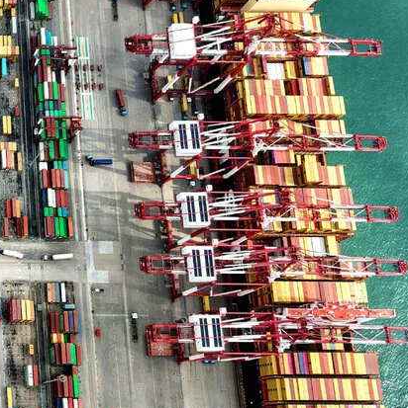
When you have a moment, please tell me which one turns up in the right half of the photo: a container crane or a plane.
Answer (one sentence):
Visible in the right half of the photo is a container crane.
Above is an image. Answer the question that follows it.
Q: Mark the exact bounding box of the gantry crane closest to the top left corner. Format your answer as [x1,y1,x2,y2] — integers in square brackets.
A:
[27,45,81,77]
